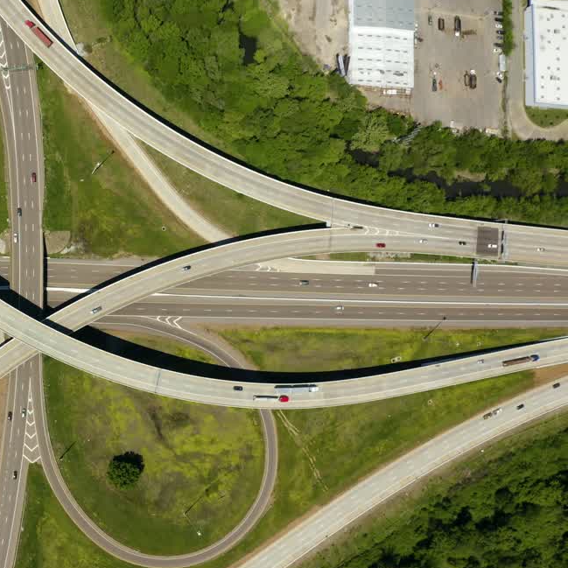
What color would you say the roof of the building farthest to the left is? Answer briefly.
white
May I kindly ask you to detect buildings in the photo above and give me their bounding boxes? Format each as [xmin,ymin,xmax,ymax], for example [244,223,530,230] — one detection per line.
[346,0,415,90]
[520,4,568,108]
